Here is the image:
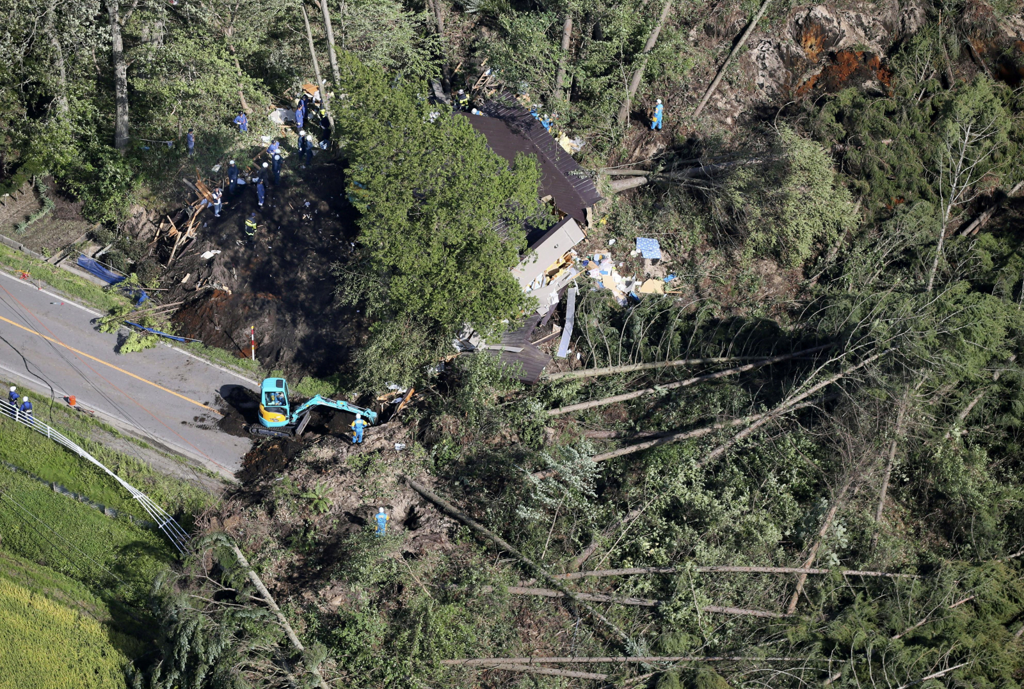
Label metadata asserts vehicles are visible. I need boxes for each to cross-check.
[245,373,377,443]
